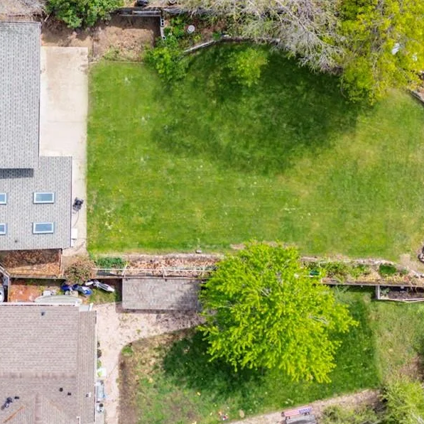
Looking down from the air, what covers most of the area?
grass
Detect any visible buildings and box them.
[0,22,74,250]
[0,301,99,424]
[122,274,202,311]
